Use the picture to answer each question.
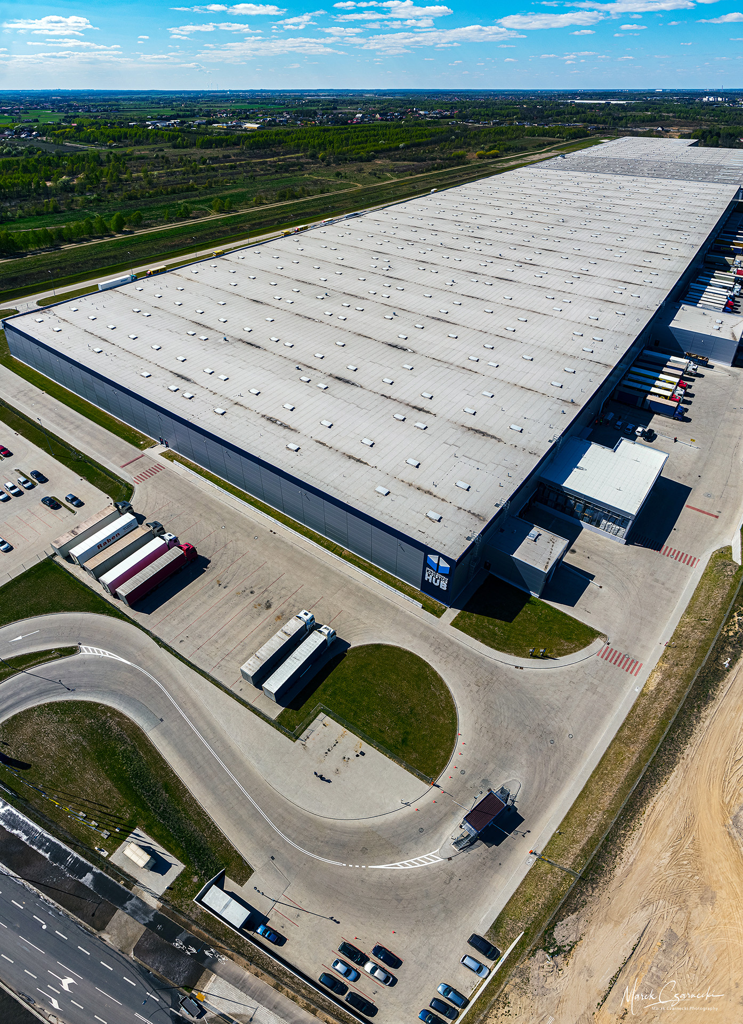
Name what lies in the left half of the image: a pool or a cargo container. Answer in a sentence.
The one visible in the left half of the image is a cargo container.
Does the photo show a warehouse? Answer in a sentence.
Yes, there's a warehouse here.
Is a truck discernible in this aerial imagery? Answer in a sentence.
Yes, you can see a truck in this photo.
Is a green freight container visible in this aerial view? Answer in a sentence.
No, there isn't any green freight container down there.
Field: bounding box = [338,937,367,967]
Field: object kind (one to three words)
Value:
car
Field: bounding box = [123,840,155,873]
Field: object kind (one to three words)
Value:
shipping container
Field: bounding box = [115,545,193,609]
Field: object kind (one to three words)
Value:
truck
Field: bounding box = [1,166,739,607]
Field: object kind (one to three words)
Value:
warehouse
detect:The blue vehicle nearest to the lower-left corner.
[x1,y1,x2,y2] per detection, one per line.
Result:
[258,922,283,946]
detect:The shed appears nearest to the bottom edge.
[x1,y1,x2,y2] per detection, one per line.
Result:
[204,886,253,932]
